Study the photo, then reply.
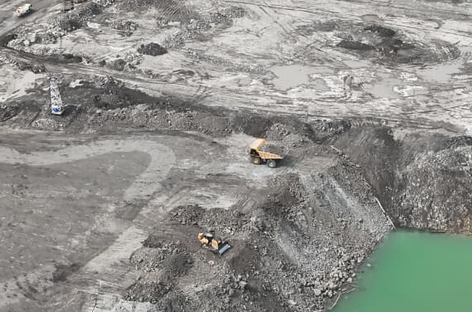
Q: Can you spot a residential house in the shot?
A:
No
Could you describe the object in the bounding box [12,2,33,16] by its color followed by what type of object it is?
white vehicle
